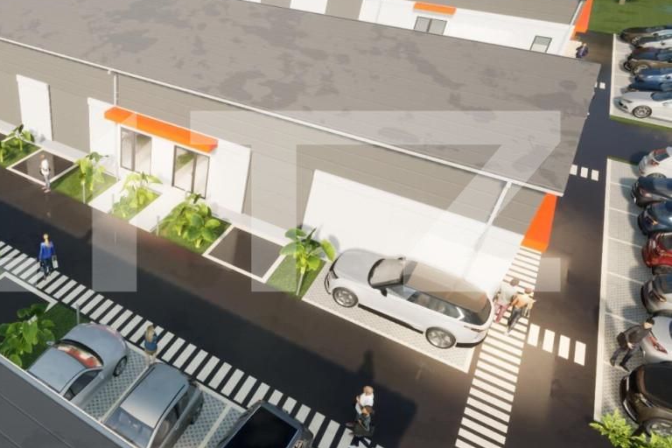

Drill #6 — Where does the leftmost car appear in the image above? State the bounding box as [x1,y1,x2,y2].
[28,320,126,404]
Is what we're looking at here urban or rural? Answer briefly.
urban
